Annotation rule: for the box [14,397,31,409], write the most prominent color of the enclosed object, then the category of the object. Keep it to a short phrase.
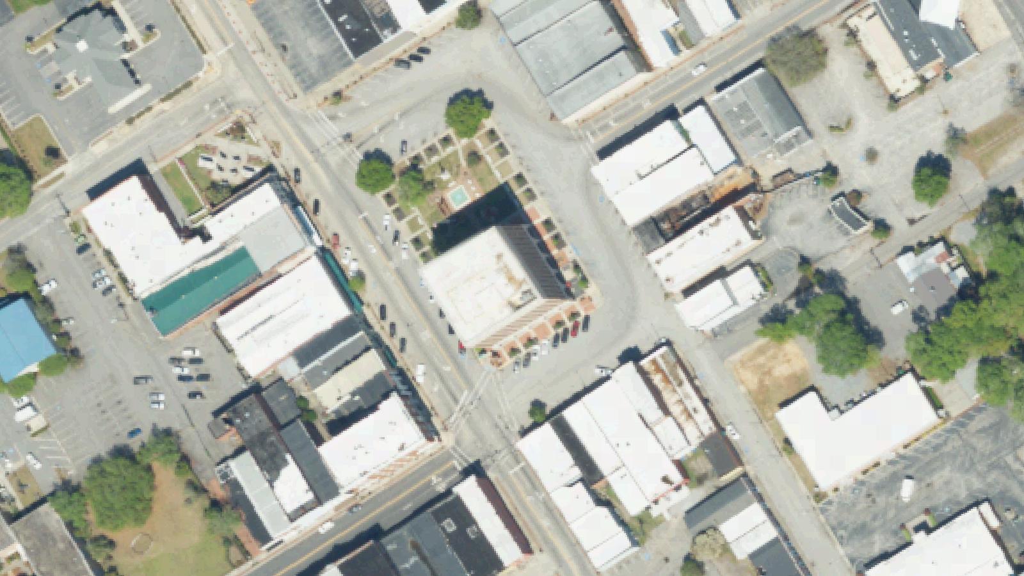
white vehicle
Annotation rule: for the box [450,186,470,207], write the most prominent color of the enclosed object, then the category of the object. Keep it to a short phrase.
white fountain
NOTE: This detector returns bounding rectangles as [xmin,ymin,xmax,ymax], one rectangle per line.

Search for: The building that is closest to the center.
[421,214,580,359]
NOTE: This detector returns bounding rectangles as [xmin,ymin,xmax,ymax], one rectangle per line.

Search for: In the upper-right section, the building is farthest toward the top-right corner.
[964,0,1015,53]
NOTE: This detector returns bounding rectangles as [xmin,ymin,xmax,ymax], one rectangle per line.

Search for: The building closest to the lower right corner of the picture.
[864,501,1024,576]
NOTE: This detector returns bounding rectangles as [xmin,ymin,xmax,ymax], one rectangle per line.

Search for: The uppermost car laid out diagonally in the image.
[691,63,707,75]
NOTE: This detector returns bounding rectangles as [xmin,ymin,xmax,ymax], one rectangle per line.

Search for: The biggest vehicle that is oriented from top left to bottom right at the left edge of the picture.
[25,451,41,469]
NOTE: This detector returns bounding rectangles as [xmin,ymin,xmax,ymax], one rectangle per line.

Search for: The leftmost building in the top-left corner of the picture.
[53,9,137,105]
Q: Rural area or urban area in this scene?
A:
urban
